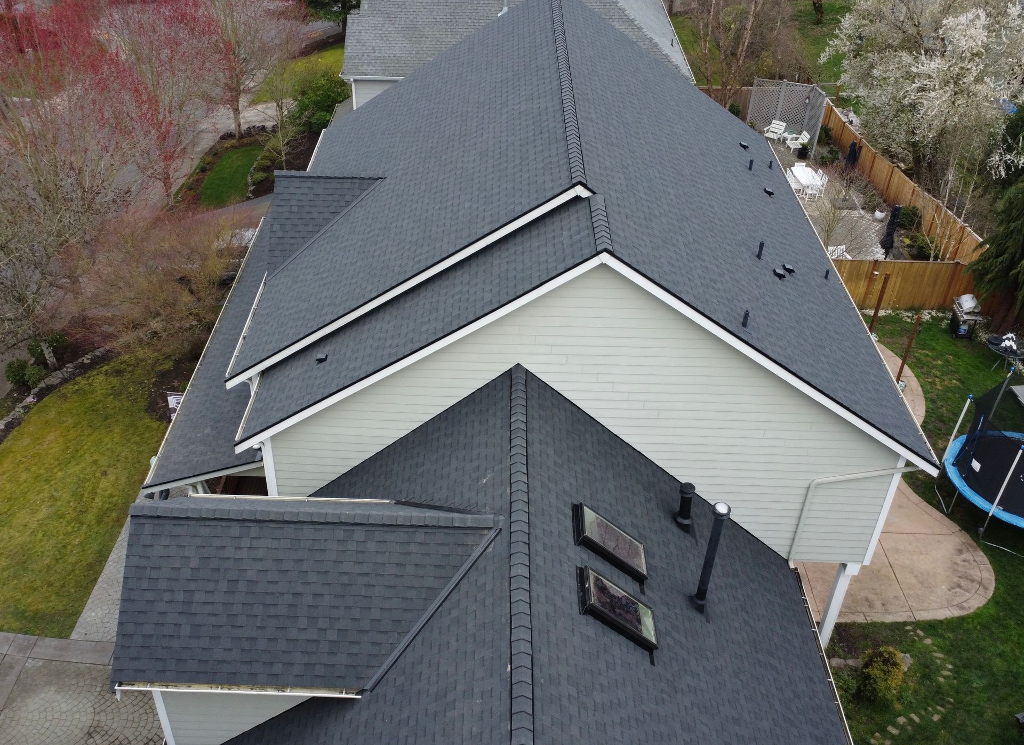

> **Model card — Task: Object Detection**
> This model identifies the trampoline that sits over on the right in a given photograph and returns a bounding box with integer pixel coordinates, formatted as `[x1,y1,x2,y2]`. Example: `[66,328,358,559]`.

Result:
[930,369,1024,541]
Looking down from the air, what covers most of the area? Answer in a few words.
buildings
